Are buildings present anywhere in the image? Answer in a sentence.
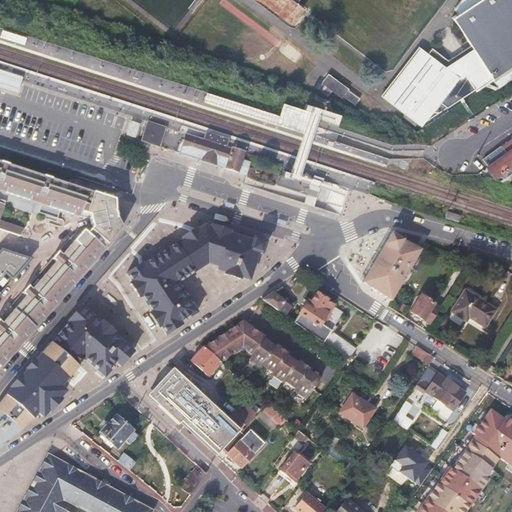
Yes, you can see a building in this photo.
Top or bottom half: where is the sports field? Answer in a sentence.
It is in the top half that the sports field appears.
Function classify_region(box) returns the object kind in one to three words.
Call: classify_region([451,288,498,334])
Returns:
house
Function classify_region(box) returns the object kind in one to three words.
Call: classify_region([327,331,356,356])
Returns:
building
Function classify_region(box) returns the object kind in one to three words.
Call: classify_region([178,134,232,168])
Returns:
building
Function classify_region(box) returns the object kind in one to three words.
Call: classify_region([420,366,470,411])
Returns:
house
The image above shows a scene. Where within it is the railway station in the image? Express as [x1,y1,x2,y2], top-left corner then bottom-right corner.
[0,30,392,194]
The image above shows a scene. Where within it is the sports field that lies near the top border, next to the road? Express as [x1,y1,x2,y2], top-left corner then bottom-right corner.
[310,0,441,71]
